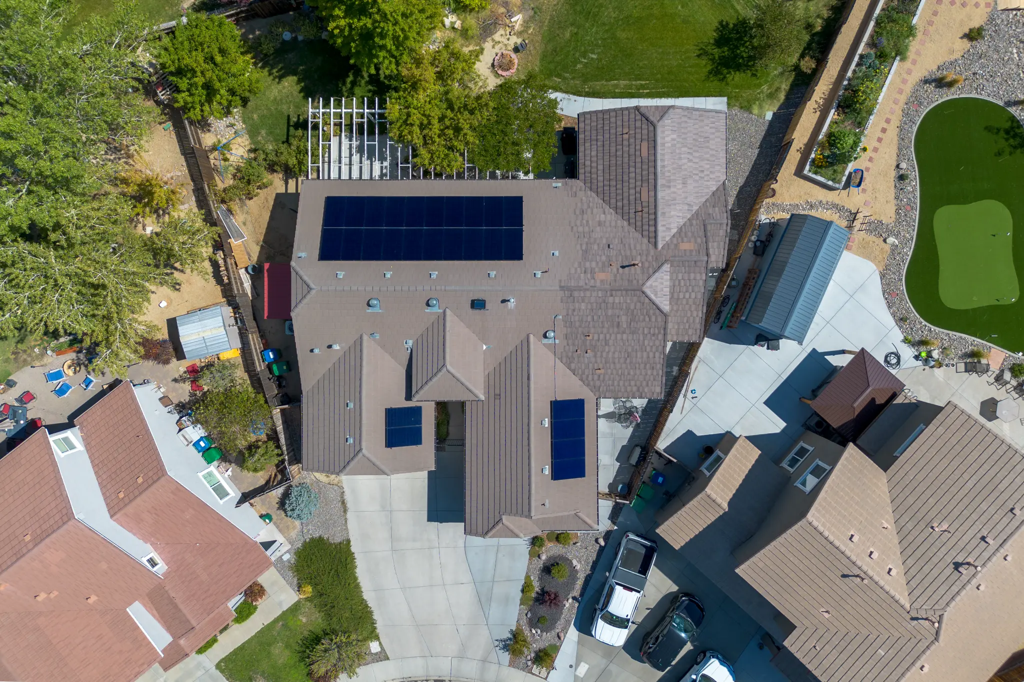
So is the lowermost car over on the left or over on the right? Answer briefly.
right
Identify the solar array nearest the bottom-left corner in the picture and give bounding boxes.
[385,406,422,448]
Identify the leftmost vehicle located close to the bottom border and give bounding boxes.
[595,528,661,649]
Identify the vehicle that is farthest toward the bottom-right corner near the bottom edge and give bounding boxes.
[677,649,731,682]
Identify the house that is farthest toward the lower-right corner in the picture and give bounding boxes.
[653,391,1024,682]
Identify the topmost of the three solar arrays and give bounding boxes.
[318,196,524,260]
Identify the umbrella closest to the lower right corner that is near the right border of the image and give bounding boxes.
[992,401,1015,424]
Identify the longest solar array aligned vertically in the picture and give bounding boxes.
[551,399,586,481]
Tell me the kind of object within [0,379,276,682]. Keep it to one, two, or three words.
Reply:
house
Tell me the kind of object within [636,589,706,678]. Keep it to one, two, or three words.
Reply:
car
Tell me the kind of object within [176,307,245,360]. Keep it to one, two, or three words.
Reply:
shed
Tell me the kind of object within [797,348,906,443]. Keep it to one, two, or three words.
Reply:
gazebo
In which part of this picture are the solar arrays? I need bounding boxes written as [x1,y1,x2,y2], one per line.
[385,406,422,448]
[551,399,586,481]
[318,196,524,260]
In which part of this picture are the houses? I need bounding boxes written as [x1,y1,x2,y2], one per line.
[0,379,276,682]
[290,103,732,540]
[653,391,1024,682]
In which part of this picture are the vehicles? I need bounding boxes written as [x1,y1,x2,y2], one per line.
[677,649,731,682]
[636,589,706,678]
[595,528,661,649]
